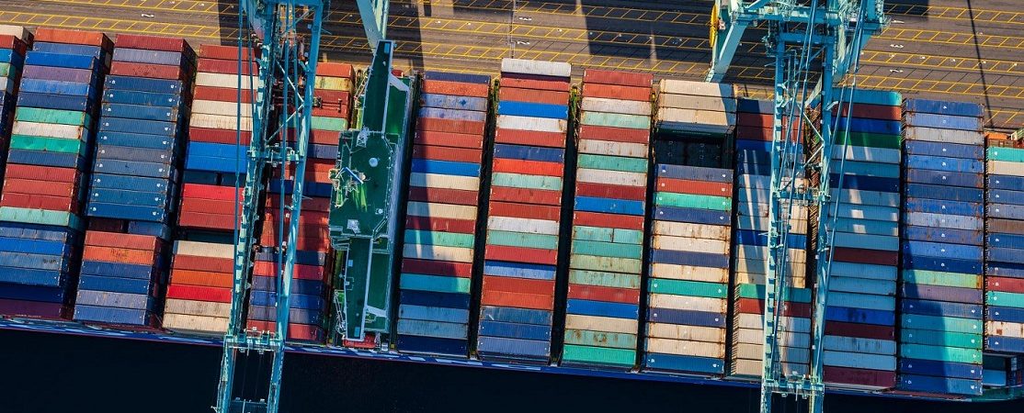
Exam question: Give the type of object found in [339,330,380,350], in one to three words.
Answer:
boat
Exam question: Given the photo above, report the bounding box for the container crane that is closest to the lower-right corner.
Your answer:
[695,0,901,413]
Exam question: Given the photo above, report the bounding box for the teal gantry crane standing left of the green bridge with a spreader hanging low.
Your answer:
[218,0,415,413]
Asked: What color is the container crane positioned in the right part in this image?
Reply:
blue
